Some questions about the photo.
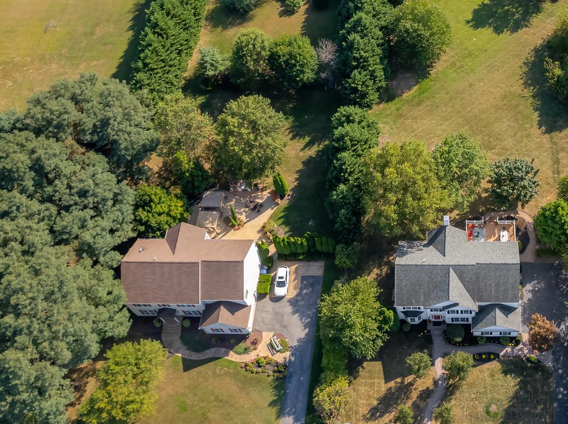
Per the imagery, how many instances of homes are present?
2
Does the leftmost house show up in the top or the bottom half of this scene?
bottom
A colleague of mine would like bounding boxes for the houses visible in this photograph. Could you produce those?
[118,219,263,333]
[394,213,521,336]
